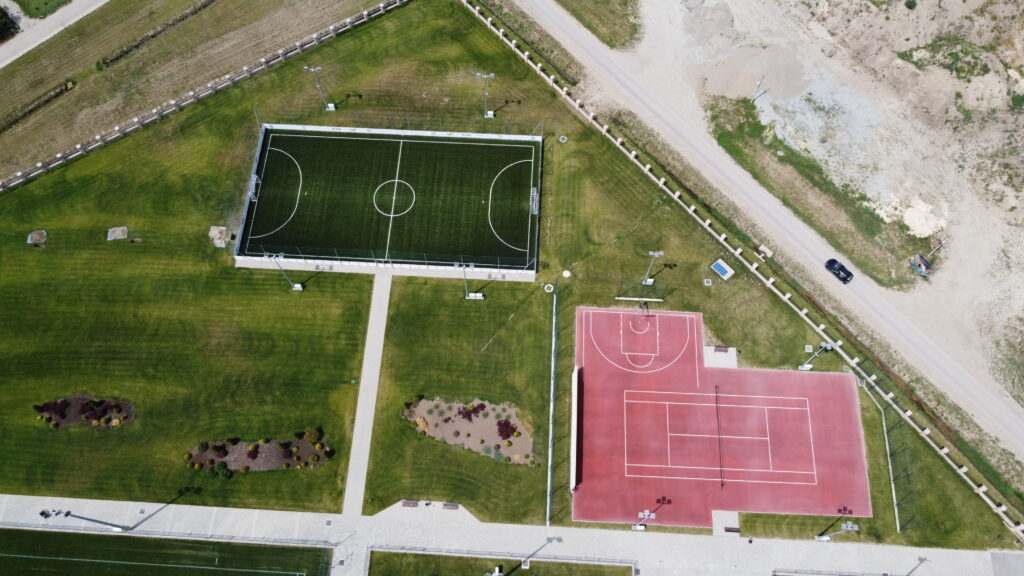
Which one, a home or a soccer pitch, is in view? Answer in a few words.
soccer pitch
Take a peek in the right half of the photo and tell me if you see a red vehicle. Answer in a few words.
No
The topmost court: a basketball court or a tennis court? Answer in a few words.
basketball court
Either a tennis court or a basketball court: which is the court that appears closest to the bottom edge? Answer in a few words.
tennis court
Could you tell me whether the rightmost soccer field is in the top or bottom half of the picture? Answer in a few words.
top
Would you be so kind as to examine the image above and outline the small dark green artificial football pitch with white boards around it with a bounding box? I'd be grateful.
[239,129,541,270]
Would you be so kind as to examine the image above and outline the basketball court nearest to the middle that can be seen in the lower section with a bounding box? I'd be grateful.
[574,307,706,387]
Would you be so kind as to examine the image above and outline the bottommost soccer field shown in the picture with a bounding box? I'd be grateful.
[0,530,320,576]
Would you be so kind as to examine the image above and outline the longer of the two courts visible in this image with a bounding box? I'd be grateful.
[571,361,873,528]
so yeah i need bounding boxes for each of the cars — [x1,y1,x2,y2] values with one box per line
[825,259,855,285]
